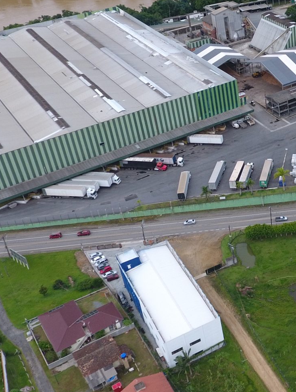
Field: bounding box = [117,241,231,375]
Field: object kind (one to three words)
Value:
building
